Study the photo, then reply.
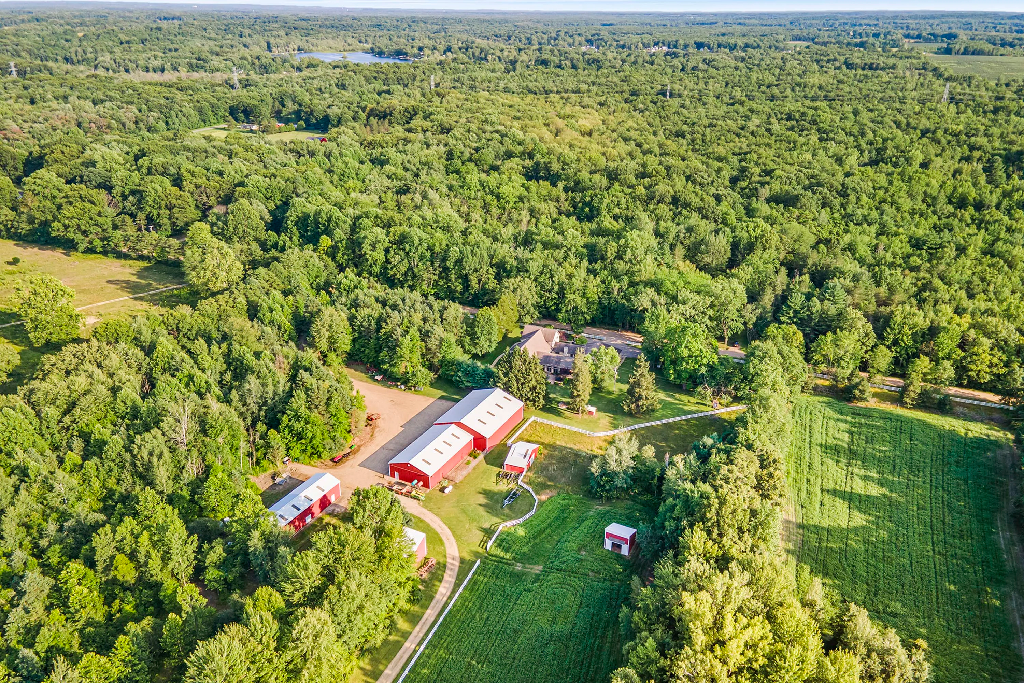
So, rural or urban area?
rural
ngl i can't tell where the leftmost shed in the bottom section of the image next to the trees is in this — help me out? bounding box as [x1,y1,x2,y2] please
[265,472,341,541]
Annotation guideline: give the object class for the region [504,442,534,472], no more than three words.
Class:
shed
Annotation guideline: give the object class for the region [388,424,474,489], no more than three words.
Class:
barn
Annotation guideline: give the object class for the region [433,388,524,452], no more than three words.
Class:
barn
